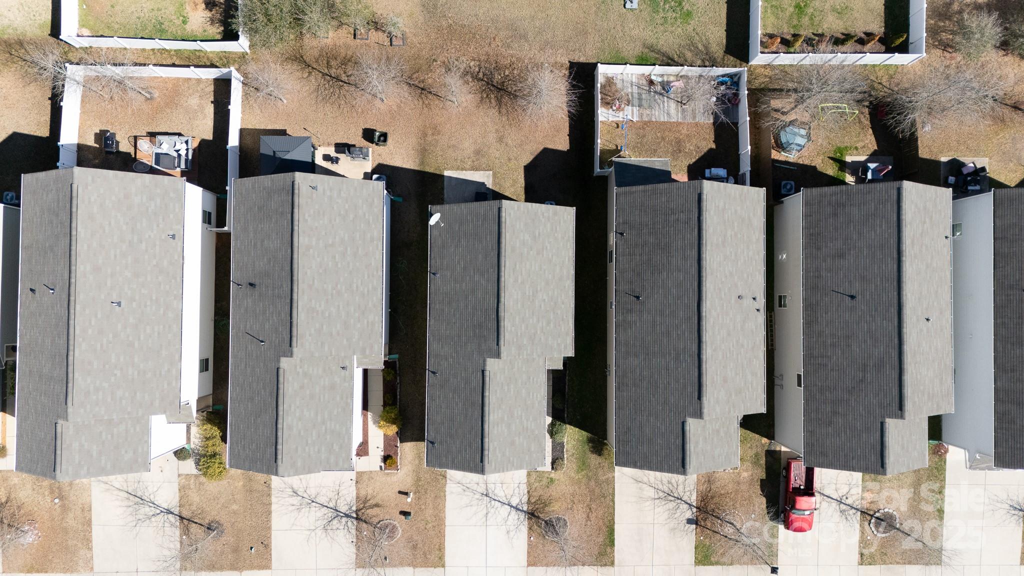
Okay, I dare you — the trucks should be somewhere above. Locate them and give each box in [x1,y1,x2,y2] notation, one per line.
[782,453,820,532]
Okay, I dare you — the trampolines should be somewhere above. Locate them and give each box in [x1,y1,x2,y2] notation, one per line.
[772,115,817,160]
